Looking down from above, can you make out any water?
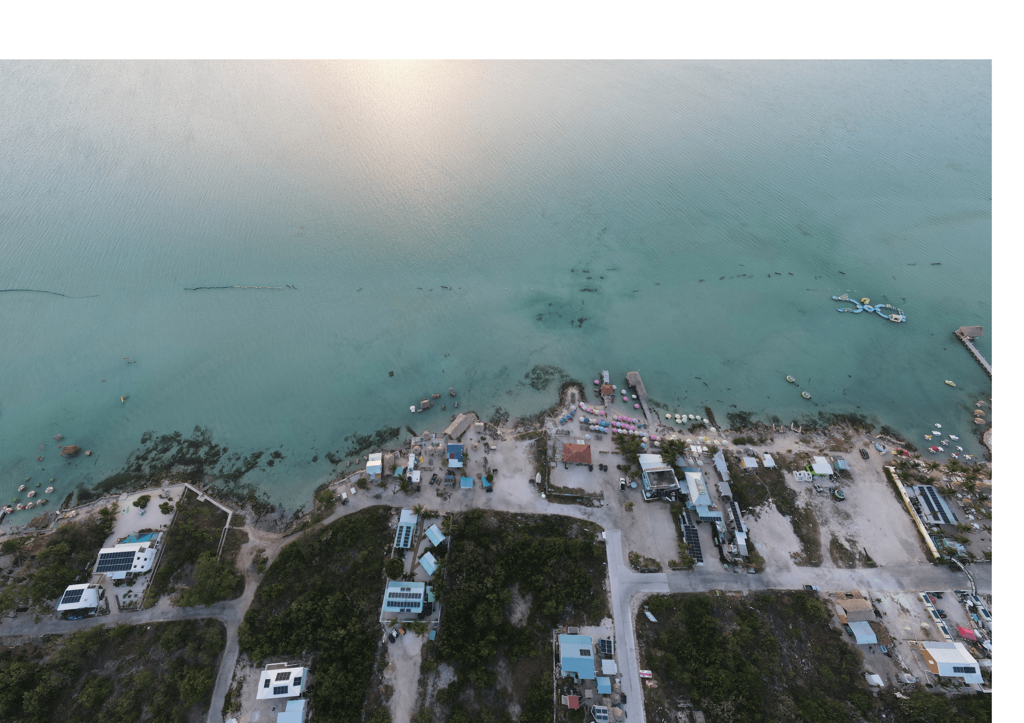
Yes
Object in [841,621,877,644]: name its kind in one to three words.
building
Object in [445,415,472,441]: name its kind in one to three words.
building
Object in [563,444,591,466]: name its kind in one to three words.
house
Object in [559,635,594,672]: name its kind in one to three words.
house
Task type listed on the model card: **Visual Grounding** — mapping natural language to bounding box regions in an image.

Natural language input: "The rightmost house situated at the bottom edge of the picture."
[909,642,985,691]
